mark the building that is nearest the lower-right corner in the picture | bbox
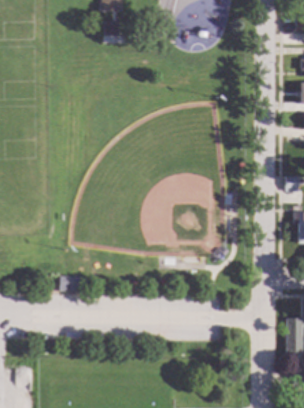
[285,318,304,353]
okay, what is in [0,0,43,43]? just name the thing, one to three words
soccer field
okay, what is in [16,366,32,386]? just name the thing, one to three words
building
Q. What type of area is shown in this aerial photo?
sports ground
